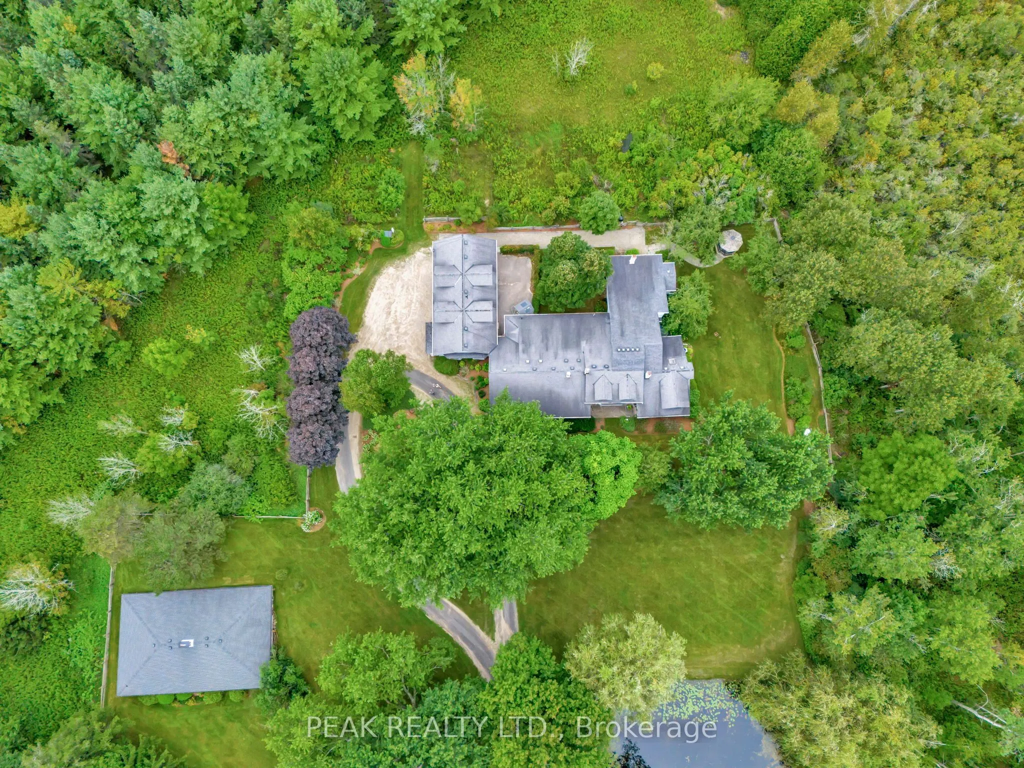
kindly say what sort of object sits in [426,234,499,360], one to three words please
building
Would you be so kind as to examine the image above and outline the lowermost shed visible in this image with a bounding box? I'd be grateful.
[116,585,277,697]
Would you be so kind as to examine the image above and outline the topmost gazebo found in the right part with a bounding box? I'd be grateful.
[713,233,745,264]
